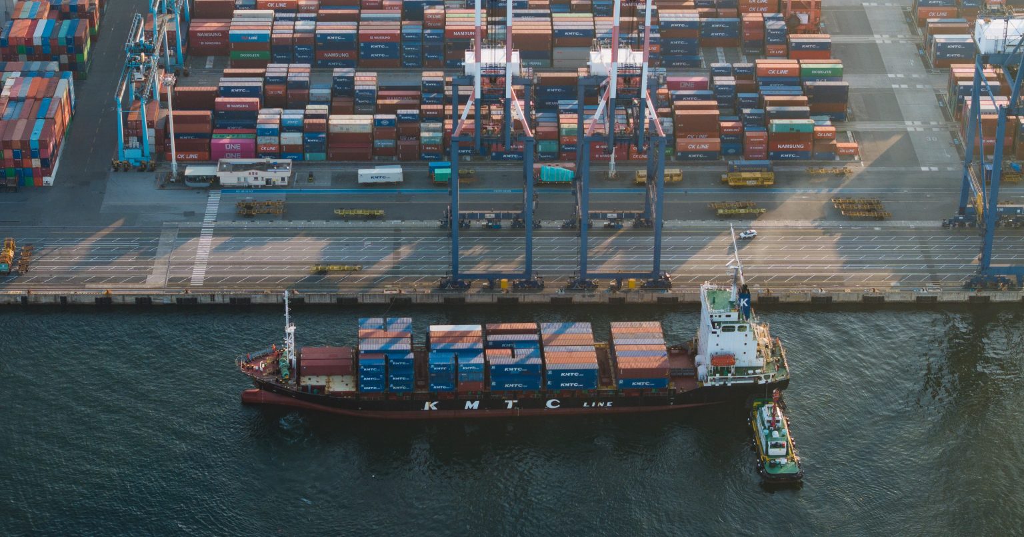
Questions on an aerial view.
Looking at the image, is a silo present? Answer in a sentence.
No, the photo shows no silo.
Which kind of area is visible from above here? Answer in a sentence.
The picture captures a port.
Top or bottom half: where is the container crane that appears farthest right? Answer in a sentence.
The top half of the photo is where the container crane that appears farthest right is.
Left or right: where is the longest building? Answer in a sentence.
The longest building sits on the left side.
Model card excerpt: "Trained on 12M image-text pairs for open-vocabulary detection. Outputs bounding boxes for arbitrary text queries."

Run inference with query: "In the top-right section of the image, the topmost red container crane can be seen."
[778,0,823,37]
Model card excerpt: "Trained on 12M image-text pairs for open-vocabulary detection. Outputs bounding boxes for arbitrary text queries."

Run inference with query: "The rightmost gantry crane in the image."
[945,6,1024,287]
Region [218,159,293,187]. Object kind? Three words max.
building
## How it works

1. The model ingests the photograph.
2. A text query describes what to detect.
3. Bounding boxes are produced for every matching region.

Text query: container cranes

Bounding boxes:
[158,0,200,72]
[114,49,168,170]
[436,0,547,287]
[945,6,1024,287]
[560,0,676,287]
[778,0,823,37]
